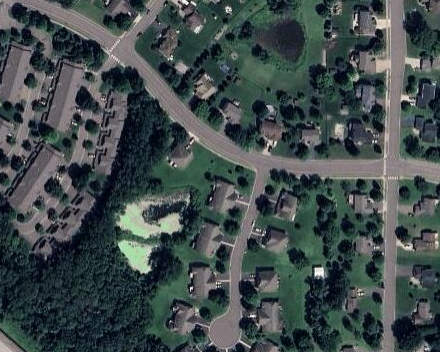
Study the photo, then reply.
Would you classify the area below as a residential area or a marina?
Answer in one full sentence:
This looks like a residential area.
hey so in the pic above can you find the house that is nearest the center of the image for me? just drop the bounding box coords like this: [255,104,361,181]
[208,182,242,216]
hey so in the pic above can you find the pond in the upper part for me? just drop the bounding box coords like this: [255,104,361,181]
[254,18,306,61]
